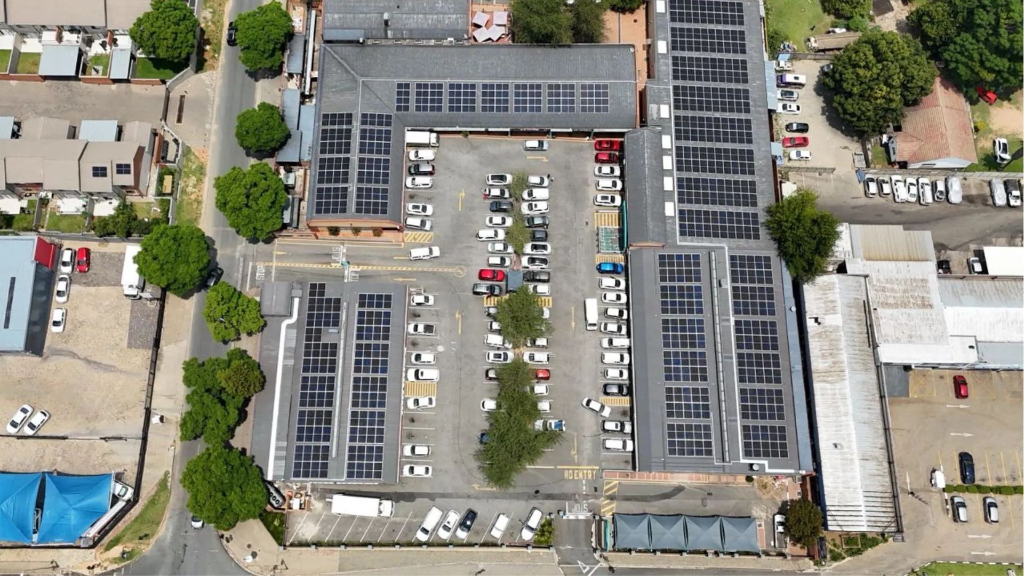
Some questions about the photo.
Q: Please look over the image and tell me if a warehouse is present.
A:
Yes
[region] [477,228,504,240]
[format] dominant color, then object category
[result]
white vehicle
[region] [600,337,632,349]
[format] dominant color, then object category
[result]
white vehicle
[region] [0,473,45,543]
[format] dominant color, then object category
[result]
blue tent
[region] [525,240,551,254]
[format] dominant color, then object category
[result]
white car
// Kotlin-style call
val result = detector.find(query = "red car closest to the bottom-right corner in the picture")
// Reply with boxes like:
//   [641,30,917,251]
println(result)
[954,375,971,399]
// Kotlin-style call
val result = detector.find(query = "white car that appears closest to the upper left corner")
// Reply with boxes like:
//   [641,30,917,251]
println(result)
[56,247,75,273]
